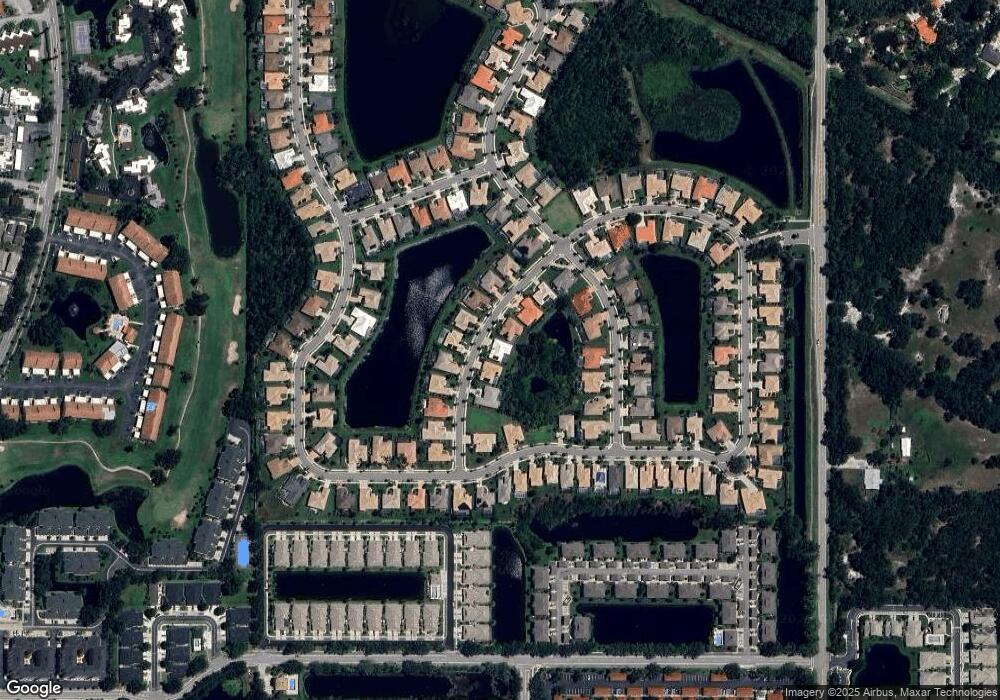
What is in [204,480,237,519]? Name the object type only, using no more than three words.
house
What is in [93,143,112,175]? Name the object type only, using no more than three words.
building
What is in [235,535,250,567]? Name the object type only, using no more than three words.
swimming pool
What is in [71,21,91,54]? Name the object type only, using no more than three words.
tennis court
